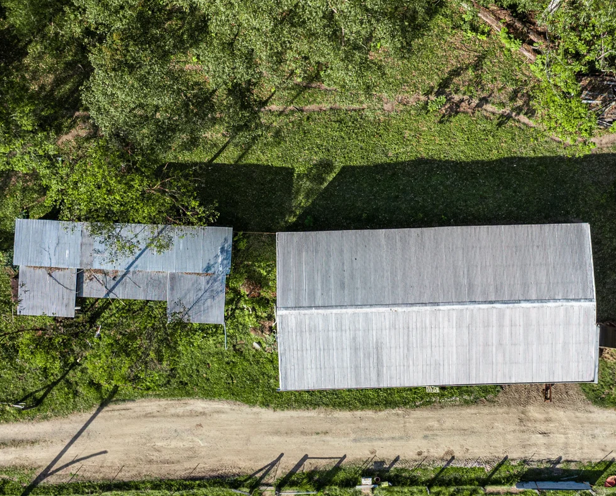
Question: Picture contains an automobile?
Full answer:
No, no automobile can be seen from above.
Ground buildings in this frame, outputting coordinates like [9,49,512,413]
[14,218,235,350]
[274,223,601,392]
